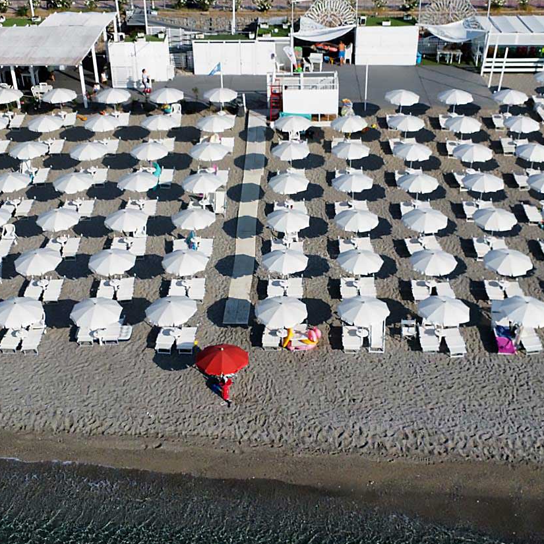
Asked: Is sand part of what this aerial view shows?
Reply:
Yes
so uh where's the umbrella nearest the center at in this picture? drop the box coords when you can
[261,248,310,286]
